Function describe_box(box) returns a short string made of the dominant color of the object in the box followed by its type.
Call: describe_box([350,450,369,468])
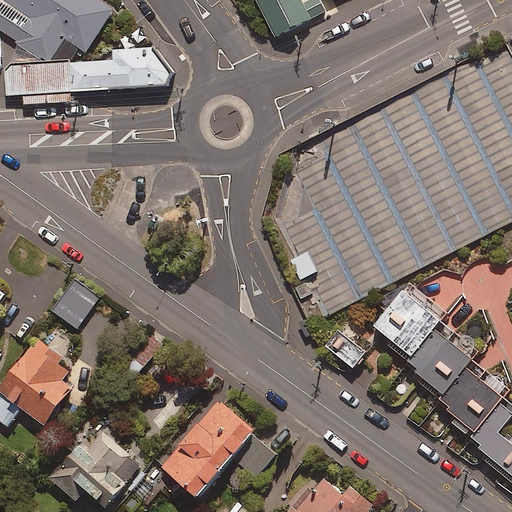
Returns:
red car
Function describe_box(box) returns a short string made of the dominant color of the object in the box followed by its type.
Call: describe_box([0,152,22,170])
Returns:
blue car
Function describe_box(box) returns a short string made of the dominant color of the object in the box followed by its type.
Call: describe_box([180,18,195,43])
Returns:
gray car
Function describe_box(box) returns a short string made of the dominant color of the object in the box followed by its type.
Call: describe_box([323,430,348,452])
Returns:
white vehicle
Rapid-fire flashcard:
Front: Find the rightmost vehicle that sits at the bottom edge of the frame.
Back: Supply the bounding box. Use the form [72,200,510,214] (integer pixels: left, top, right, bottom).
[467,478,486,496]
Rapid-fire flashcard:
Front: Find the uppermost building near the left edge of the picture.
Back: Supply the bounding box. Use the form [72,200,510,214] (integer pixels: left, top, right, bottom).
[0,0,112,64]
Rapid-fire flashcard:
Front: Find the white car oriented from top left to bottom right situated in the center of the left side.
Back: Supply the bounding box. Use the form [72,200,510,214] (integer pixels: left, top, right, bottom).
[38,226,59,246]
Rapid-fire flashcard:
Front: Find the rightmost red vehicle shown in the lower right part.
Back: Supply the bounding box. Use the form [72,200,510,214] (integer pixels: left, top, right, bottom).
[440,459,462,478]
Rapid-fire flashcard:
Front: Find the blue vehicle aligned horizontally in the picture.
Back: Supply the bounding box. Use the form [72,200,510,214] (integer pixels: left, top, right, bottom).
[420,282,440,294]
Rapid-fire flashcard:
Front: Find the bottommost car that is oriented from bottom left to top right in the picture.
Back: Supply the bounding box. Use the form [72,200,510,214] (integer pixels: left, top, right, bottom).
[271,428,290,450]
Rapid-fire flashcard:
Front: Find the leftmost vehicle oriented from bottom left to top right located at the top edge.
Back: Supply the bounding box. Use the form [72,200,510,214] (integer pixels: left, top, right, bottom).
[318,22,344,43]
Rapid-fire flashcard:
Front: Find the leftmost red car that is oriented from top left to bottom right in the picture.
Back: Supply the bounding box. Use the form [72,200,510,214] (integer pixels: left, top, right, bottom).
[62,243,84,262]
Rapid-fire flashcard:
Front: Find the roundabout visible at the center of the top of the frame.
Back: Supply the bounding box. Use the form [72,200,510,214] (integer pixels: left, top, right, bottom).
[200,94,254,149]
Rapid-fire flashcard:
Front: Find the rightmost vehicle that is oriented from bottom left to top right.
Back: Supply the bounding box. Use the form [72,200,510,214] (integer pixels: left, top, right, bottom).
[452,304,473,326]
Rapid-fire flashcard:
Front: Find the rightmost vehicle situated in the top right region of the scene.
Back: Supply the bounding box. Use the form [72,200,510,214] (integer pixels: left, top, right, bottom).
[414,58,435,73]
